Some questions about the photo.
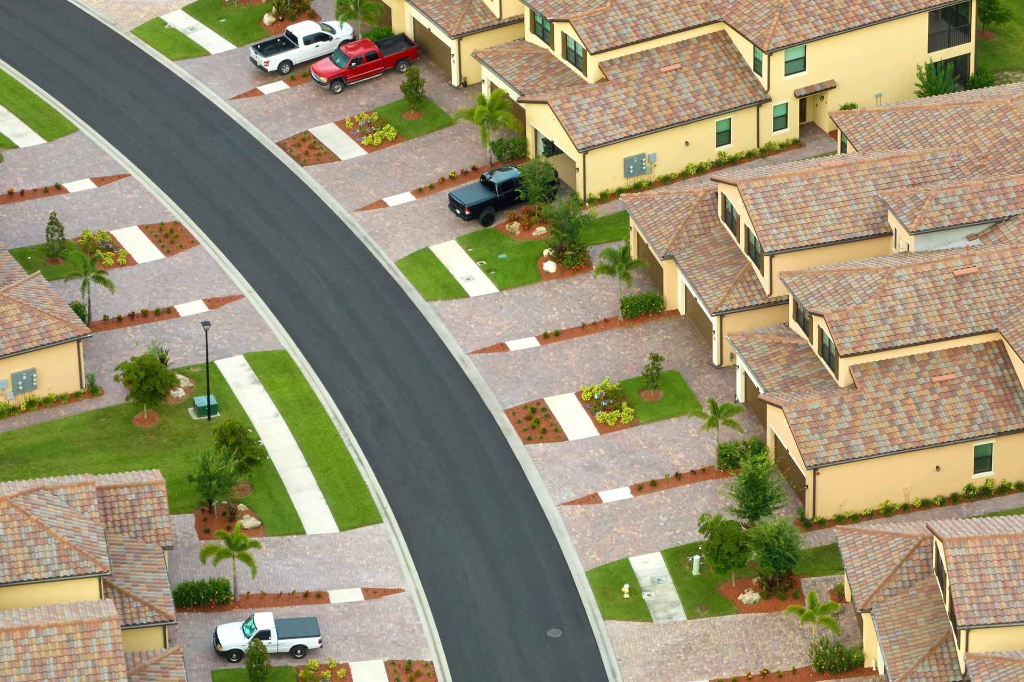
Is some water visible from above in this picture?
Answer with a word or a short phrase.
No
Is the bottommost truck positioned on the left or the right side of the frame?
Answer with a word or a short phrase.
left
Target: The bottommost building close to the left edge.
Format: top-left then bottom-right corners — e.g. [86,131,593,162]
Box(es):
[0,465,187,682]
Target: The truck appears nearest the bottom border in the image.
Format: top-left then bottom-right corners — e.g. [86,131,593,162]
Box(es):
[214,612,325,663]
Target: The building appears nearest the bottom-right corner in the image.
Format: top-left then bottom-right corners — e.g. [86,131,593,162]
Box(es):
[833,515,1024,682]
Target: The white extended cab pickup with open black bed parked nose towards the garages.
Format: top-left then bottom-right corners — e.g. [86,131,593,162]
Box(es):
[248,21,356,75]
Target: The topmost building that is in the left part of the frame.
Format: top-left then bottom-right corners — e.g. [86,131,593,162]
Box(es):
[0,234,96,410]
